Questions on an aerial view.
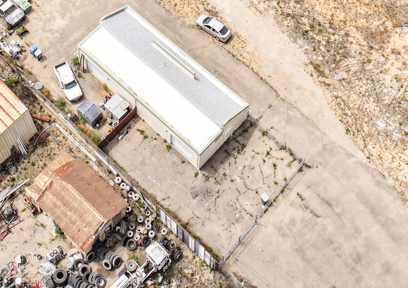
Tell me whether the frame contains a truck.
Yes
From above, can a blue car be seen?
No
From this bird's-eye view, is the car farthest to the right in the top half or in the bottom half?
top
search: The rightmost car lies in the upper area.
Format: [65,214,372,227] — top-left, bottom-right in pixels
[193,15,231,44]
